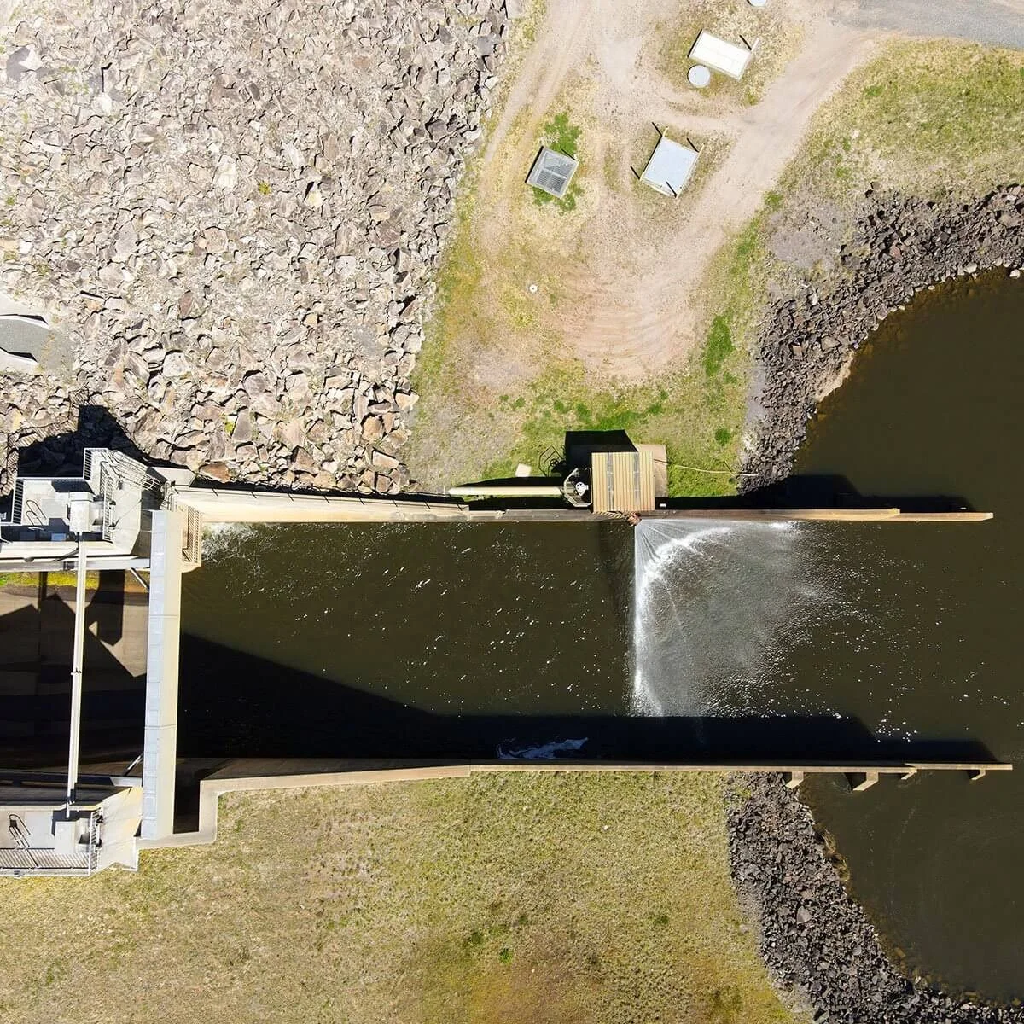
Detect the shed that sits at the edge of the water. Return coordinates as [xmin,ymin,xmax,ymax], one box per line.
[590,452,655,512]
